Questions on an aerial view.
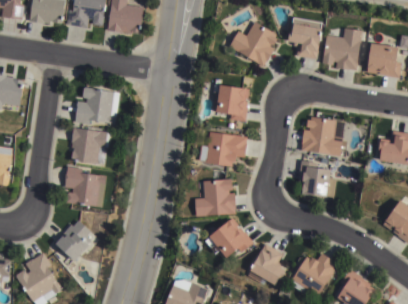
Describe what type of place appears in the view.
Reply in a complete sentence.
This image shows a residential area.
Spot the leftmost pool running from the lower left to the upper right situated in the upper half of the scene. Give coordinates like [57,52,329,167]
[231,9,254,26]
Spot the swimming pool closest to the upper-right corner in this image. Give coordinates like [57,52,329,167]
[274,5,290,26]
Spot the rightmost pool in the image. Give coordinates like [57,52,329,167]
[368,158,386,174]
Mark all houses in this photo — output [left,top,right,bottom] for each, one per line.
[30,0,66,26]
[0,252,11,287]
[0,74,24,110]
[218,84,251,122]
[303,160,338,198]
[168,280,208,304]
[17,254,68,304]
[369,44,403,78]
[0,147,14,186]
[289,18,324,58]
[296,256,336,296]
[0,0,24,18]
[68,0,106,26]
[56,222,96,266]
[75,88,120,124]
[385,201,408,244]
[66,166,106,208]
[324,28,368,70]
[380,132,408,165]
[70,129,112,164]
[108,0,144,33]
[302,118,347,158]
[234,23,279,72]
[250,244,294,286]
[337,272,375,304]
[202,132,248,166]
[196,180,237,216]
[211,220,256,258]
